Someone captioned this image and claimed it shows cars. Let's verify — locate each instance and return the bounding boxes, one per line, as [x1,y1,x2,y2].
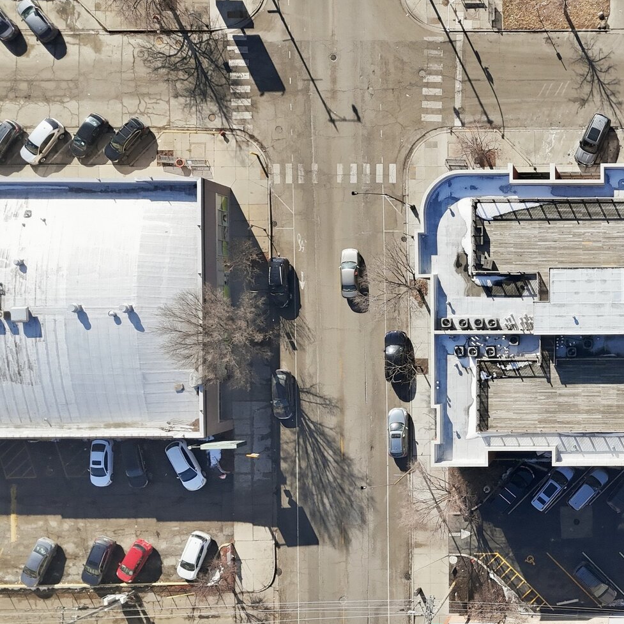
[72,110,113,163]
[486,465,535,514]
[81,535,117,586]
[266,256,293,308]
[529,467,575,513]
[25,117,66,165]
[337,248,362,298]
[121,437,153,489]
[120,537,155,582]
[87,437,117,489]
[0,1,28,52]
[269,368,296,419]
[565,467,610,514]
[0,115,32,165]
[18,0,62,47]
[386,329,411,383]
[23,534,60,587]
[384,407,410,458]
[165,437,208,491]
[178,529,213,580]
[572,558,619,608]
[105,114,150,165]
[577,114,611,166]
